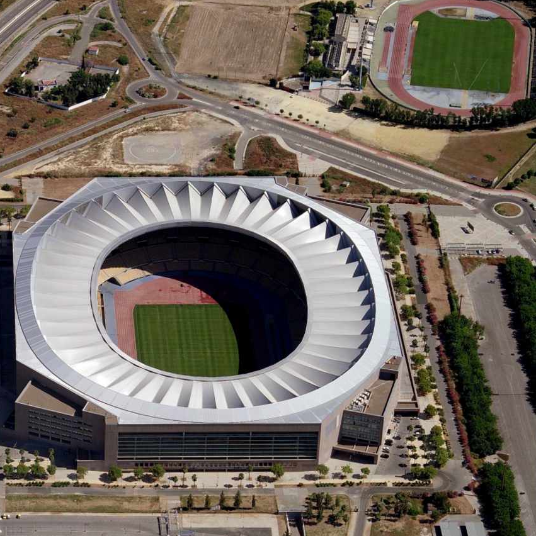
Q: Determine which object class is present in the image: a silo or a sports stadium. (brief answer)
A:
sports stadium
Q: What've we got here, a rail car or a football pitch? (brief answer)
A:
football pitch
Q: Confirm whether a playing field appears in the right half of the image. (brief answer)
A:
Yes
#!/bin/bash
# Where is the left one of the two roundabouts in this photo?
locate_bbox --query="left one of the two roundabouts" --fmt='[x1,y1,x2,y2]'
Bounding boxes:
[123,76,176,104]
